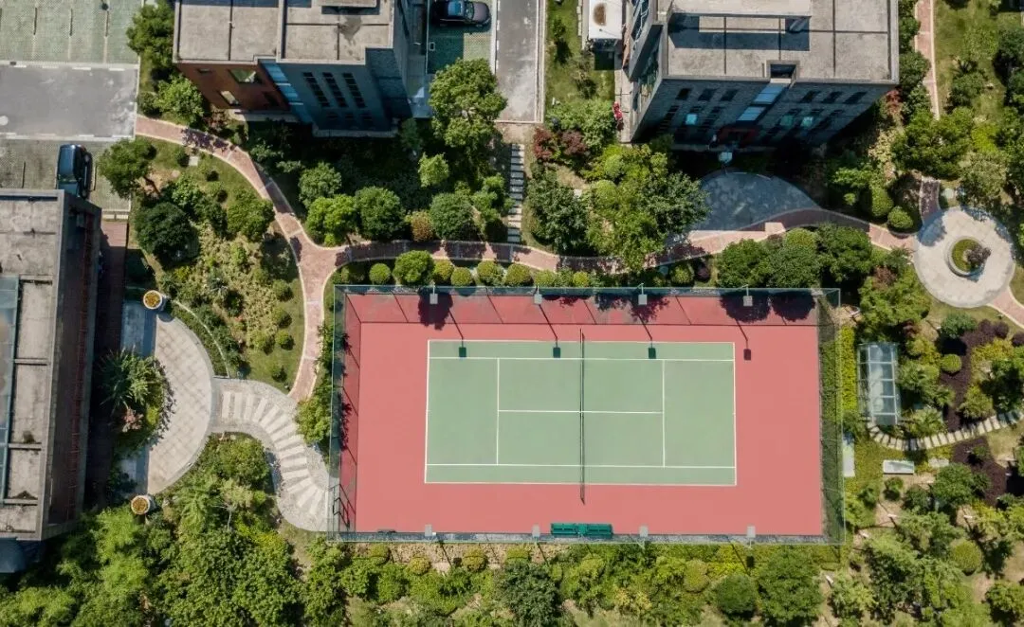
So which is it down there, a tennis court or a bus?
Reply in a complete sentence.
The one in the frame is a tennis court.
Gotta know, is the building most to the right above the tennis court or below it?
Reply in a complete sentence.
Within the scene, the building most to the right can be found above the tennis court.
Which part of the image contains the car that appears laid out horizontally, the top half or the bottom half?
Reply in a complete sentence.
You can find the car that appears laid out horizontally in the top half.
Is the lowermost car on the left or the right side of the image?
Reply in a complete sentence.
The lowermost car is on the left side of the image.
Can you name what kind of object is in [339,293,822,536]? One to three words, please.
tennis court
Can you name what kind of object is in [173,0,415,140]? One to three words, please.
building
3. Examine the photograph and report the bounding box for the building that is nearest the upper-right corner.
[626,0,897,156]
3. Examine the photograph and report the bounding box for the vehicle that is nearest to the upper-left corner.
[60,142,95,201]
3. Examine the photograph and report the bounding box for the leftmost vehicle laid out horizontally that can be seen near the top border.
[432,0,490,27]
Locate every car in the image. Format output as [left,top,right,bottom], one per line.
[432,0,490,27]
[60,142,95,201]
